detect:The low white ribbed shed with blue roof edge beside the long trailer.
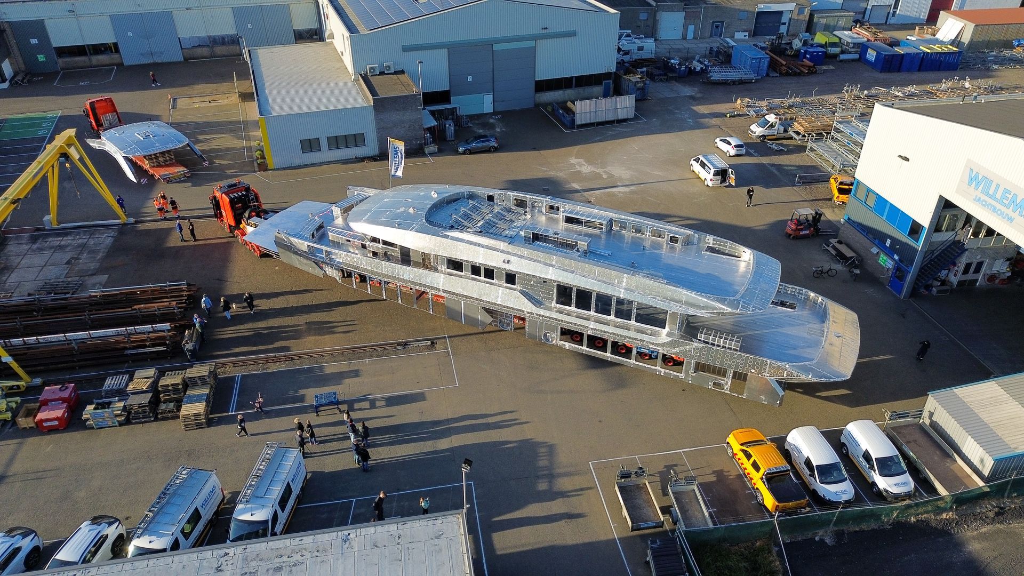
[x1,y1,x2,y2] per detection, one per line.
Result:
[925,367,1024,477]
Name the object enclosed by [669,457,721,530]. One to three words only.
trailer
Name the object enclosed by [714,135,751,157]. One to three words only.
car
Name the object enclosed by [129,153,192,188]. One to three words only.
vehicle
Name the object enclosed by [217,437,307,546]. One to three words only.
van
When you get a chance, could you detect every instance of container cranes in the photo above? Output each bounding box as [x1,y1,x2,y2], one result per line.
[0,122,138,224]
